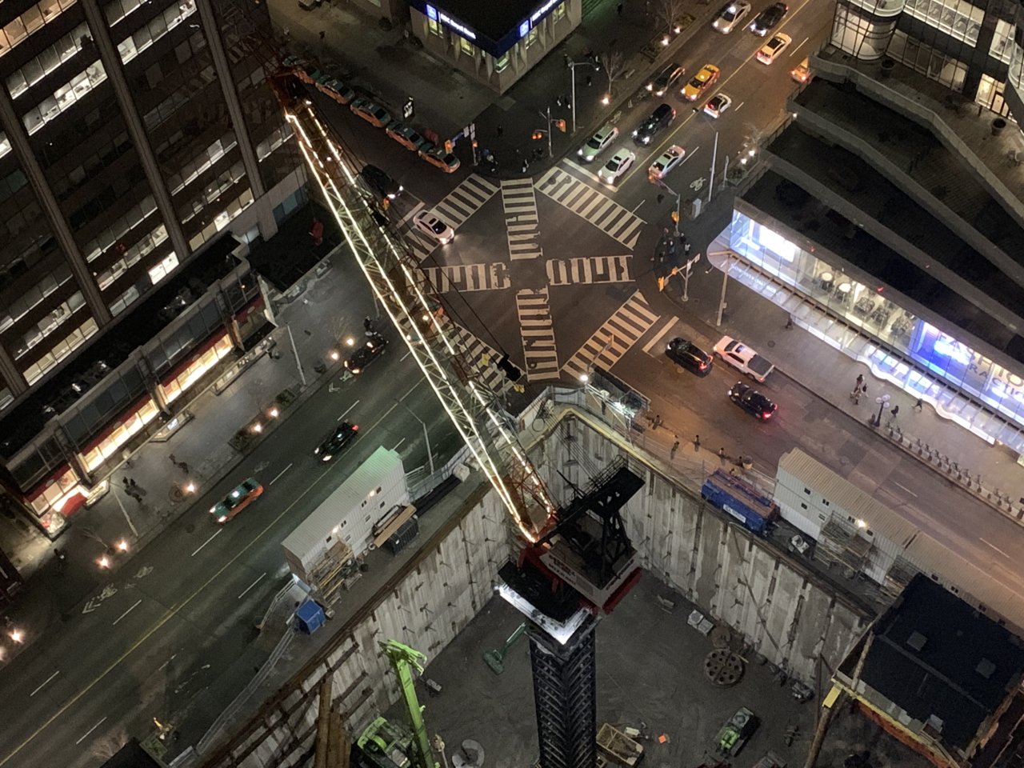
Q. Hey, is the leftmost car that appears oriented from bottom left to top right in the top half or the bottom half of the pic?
bottom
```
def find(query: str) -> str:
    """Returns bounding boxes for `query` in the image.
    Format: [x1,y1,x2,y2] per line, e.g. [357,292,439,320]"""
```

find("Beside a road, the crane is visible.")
[262,50,651,768]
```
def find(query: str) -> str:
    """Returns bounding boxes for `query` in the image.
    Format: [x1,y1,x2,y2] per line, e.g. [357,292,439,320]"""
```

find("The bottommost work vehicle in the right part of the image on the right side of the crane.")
[711,702,761,757]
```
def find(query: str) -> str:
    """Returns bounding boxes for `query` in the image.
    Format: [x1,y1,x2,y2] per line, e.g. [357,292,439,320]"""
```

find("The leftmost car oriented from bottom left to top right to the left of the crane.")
[211,476,264,526]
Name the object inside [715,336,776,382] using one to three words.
truck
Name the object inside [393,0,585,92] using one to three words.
building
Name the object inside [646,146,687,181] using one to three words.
car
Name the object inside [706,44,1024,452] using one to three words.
building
